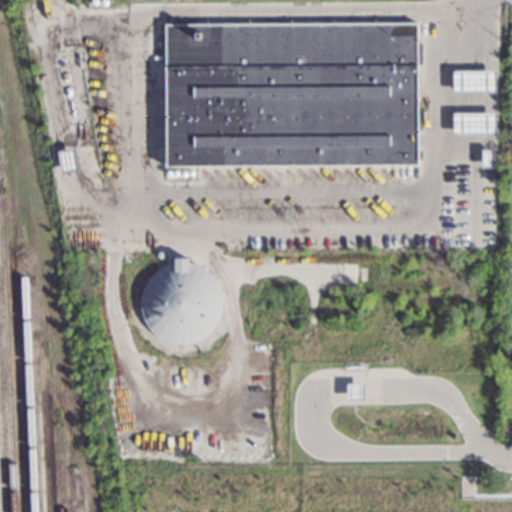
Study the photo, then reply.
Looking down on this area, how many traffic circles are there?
0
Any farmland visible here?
No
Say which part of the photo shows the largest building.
top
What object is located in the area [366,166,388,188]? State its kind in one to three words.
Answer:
truck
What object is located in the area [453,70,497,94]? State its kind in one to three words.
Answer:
shed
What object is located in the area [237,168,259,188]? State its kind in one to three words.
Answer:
vehicle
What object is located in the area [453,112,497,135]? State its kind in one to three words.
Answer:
shed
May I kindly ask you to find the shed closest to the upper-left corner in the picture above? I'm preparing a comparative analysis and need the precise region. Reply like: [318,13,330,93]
[59,151,76,174]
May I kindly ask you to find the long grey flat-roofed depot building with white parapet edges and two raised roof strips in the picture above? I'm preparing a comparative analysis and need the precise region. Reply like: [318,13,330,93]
[165,22,418,166]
